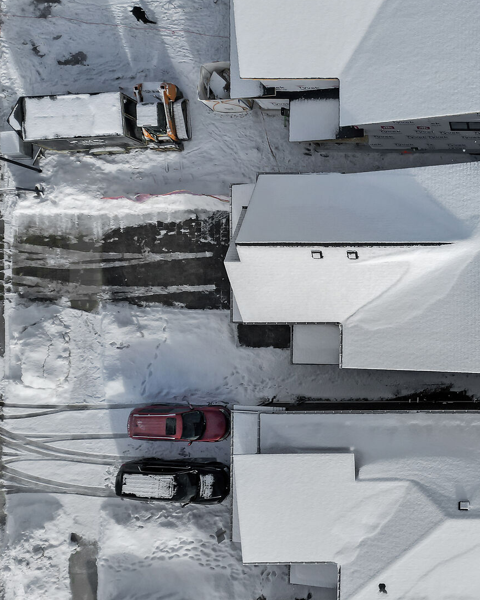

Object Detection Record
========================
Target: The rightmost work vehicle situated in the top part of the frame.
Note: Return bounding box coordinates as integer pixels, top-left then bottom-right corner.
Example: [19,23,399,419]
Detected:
[131,76,185,161]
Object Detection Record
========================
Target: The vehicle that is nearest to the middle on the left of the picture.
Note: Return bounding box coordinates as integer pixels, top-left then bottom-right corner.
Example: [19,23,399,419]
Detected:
[127,402,230,450]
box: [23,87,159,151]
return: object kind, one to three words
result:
trailer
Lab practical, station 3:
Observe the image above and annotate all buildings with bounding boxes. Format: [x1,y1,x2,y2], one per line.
[223,159,480,372]
[229,0,480,149]
[230,400,480,600]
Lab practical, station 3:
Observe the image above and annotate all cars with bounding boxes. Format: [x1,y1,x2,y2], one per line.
[115,457,230,509]
[127,402,230,450]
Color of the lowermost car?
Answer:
black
